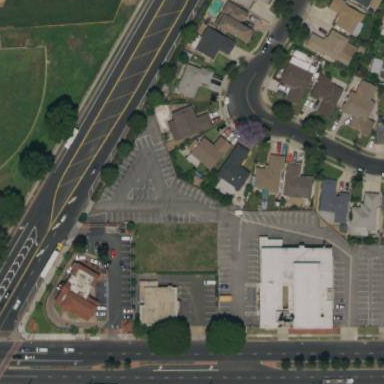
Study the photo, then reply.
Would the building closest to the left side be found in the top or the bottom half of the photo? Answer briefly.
bottom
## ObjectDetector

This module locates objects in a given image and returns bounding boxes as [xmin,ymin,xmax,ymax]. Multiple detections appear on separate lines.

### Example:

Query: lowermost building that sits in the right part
[257,236,334,328]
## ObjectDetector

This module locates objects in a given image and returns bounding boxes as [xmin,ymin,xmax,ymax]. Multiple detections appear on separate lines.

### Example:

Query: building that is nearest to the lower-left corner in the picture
[56,262,100,321]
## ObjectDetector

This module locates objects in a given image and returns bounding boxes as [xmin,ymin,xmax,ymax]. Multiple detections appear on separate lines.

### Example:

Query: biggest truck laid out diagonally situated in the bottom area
[38,244,63,280]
